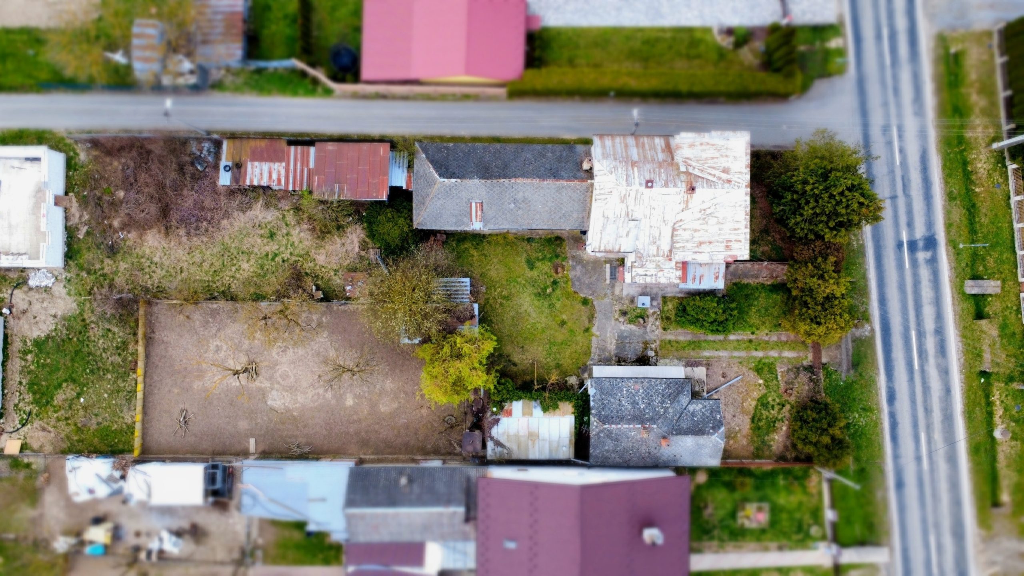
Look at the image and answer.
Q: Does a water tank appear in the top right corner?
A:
No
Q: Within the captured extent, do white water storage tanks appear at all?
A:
No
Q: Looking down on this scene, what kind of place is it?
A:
residential area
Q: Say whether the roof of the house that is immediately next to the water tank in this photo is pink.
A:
Yes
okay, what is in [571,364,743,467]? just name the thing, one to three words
house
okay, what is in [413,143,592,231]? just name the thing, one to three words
house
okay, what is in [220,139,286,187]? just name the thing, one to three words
shed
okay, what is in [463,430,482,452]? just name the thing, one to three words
shed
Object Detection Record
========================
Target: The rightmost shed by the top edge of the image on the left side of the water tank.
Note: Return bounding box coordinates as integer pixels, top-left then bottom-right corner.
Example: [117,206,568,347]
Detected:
[197,0,253,76]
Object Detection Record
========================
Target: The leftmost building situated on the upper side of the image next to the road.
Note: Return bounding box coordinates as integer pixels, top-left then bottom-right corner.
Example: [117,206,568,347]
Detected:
[0,146,67,267]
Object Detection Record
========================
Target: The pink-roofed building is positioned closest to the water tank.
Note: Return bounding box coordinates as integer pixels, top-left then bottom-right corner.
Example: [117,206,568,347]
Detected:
[360,0,541,91]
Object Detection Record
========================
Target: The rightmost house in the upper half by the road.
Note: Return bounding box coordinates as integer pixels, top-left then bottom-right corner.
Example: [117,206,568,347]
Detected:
[586,127,750,289]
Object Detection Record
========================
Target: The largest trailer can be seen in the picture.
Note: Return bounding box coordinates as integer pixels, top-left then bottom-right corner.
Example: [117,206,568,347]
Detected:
[148,461,213,505]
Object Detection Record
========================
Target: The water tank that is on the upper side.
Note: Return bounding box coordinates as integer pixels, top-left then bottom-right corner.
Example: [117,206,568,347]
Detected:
[330,46,358,75]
